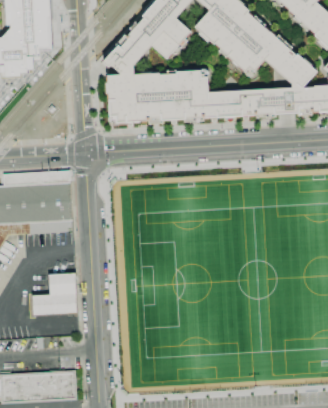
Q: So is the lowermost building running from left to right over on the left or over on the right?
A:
left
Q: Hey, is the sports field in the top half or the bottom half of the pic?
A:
bottom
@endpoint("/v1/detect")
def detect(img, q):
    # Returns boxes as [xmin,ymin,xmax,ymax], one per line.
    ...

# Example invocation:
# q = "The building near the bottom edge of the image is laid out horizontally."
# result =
[0,370,77,403]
